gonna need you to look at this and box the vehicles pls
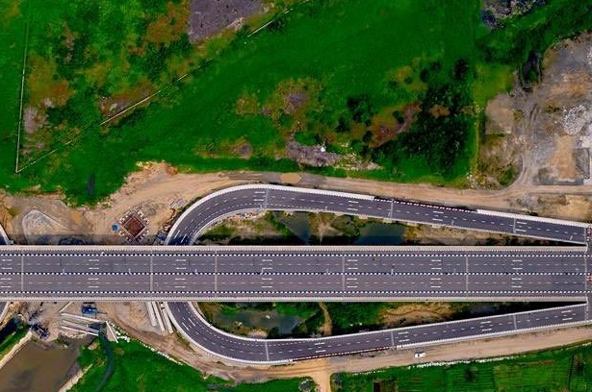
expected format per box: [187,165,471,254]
[415,351,429,358]
[27,316,48,339]
[80,307,106,315]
